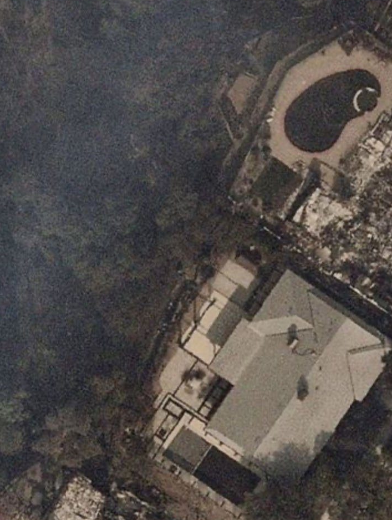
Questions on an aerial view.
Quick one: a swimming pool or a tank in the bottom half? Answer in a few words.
swimming pool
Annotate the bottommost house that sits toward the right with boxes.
[204,270,390,486]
